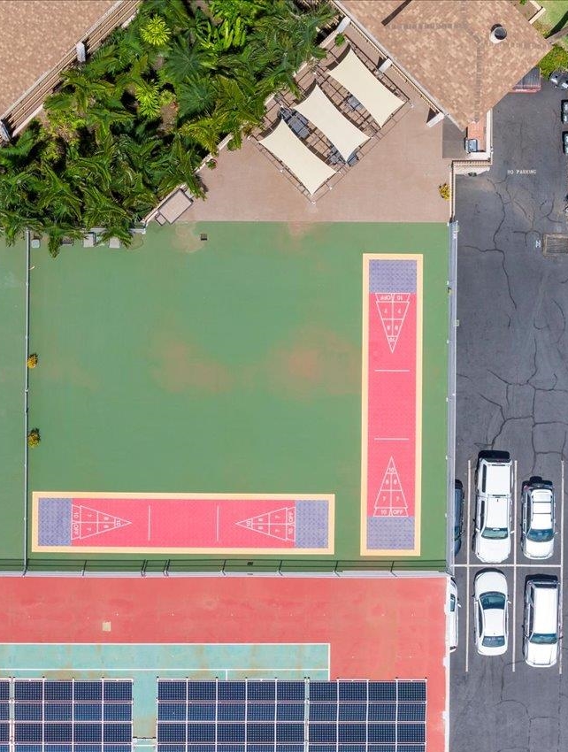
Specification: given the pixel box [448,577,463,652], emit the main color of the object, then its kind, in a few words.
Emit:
white car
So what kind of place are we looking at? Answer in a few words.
sports ground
